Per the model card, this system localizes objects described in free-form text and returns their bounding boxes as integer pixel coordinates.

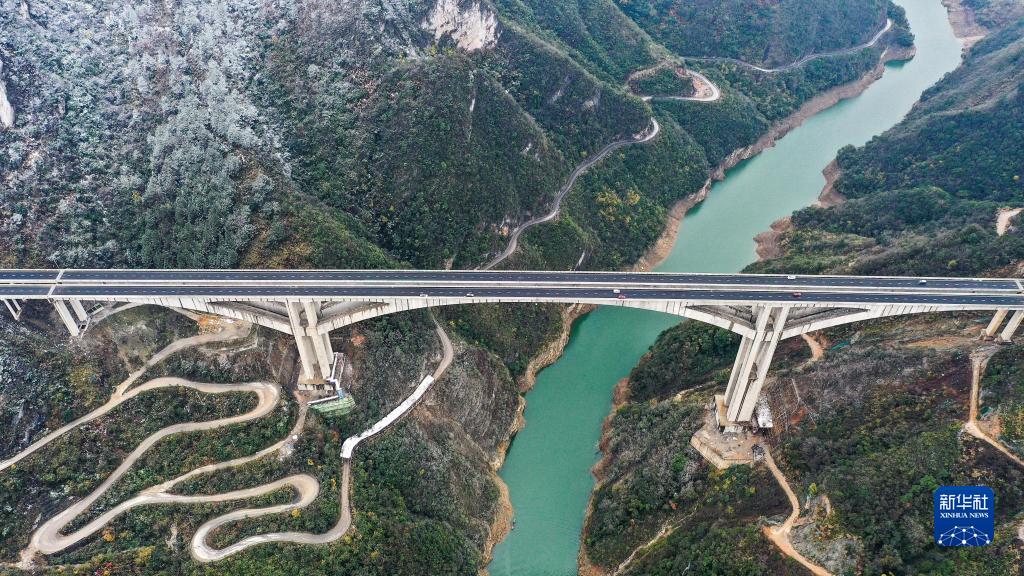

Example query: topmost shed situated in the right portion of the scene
[756,394,773,433]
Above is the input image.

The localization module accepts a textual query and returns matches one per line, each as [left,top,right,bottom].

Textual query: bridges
[0,269,1024,433]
